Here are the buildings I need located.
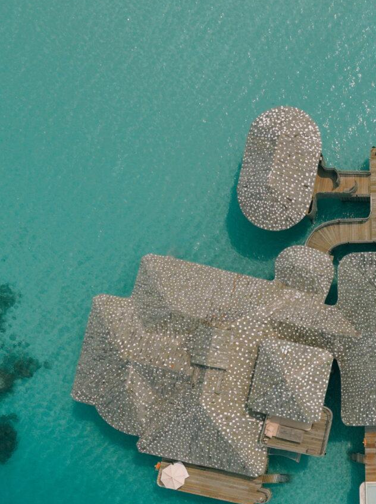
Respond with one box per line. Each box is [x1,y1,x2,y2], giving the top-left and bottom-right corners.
[73,252,362,479]
[237,107,321,231]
